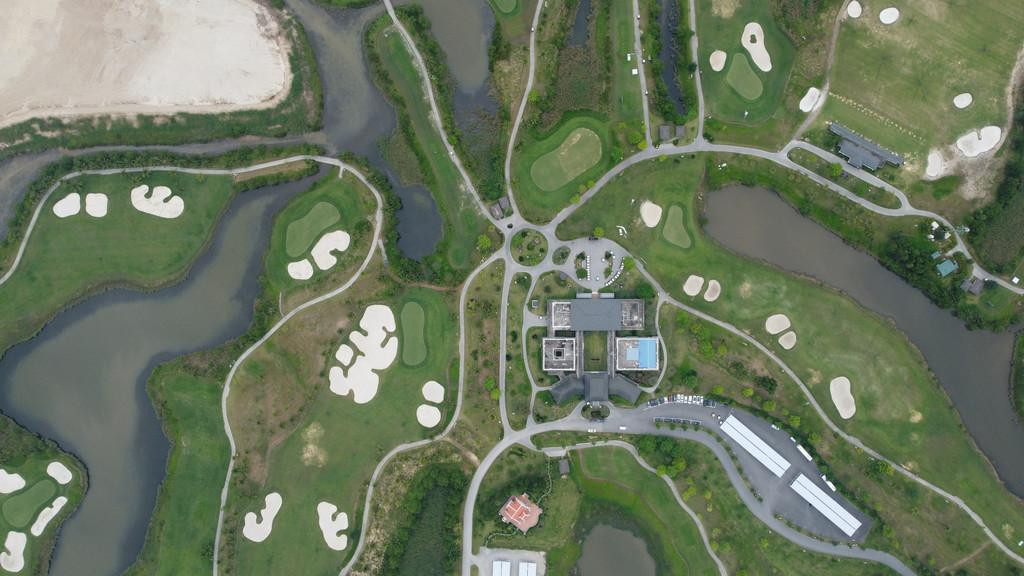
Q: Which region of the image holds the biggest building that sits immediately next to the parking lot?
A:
center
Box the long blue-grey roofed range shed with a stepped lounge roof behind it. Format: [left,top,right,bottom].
[826,122,903,172]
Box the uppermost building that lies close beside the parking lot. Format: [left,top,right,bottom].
[543,292,658,406]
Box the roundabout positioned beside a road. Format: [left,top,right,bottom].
[505,221,555,271]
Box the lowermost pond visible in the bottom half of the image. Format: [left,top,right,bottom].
[578,523,657,576]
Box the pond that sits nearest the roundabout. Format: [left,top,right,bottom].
[416,0,496,148]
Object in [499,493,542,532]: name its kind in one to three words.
house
